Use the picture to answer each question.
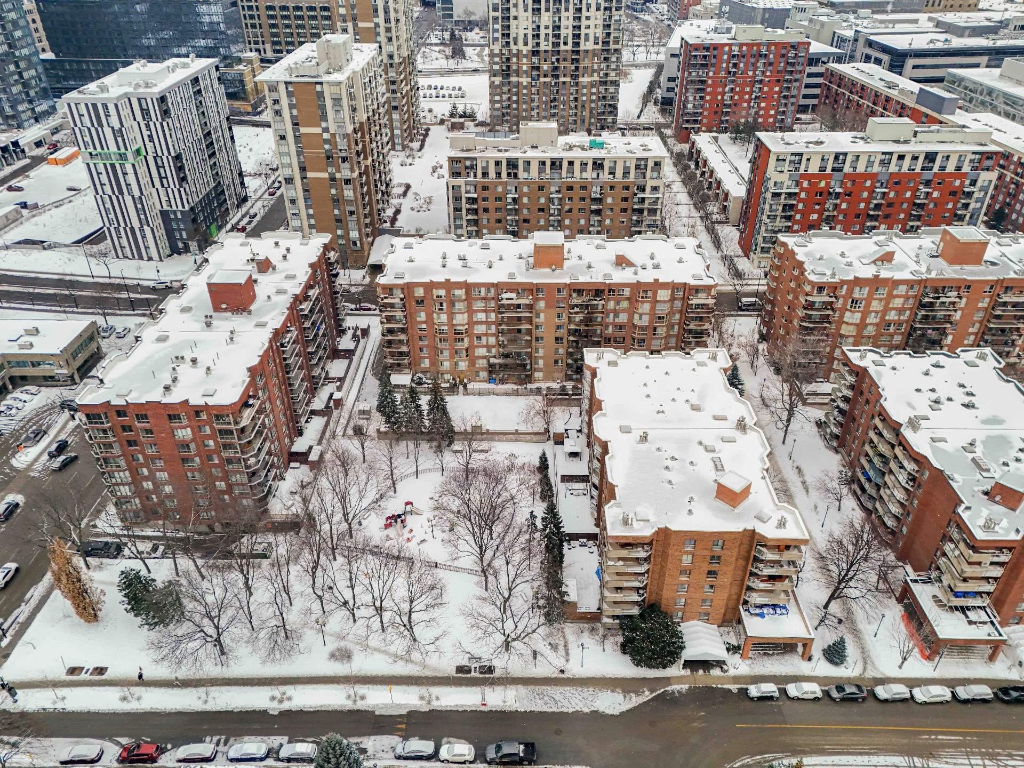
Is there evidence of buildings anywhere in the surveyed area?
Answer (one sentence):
Yes, there's a building down there.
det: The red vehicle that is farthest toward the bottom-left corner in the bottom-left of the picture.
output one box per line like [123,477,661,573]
[115,742,160,765]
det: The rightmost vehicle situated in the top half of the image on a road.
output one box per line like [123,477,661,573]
[737,296,762,308]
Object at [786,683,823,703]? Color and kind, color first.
white car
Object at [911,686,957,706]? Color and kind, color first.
white car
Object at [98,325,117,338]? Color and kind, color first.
gray vehicle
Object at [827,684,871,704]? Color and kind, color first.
gray car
